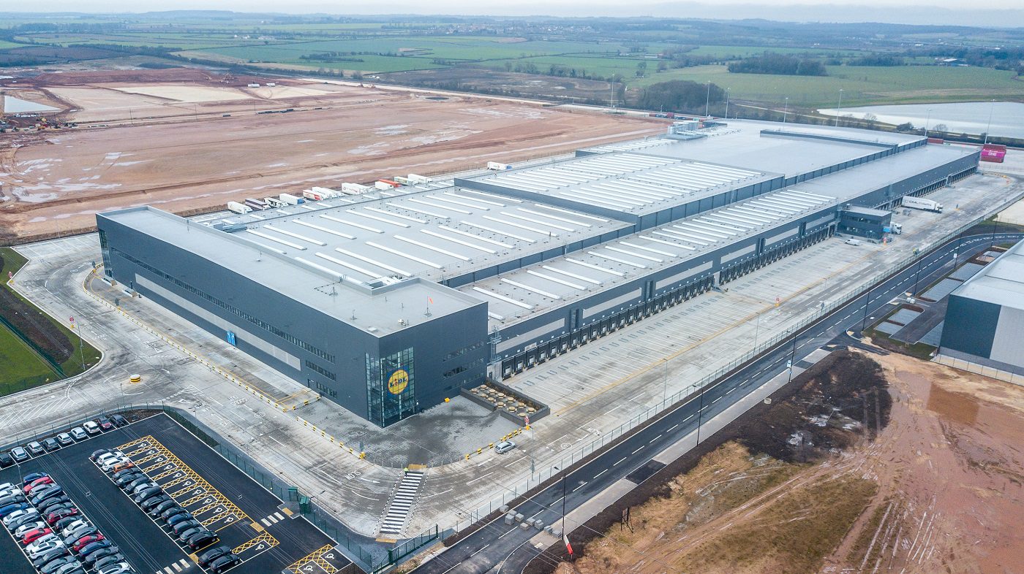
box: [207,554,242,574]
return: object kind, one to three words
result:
car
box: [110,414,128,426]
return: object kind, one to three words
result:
vehicle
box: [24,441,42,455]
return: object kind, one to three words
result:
car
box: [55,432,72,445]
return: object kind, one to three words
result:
vehicle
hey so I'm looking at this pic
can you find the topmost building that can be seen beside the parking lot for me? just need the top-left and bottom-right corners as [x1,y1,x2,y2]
[97,119,985,429]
